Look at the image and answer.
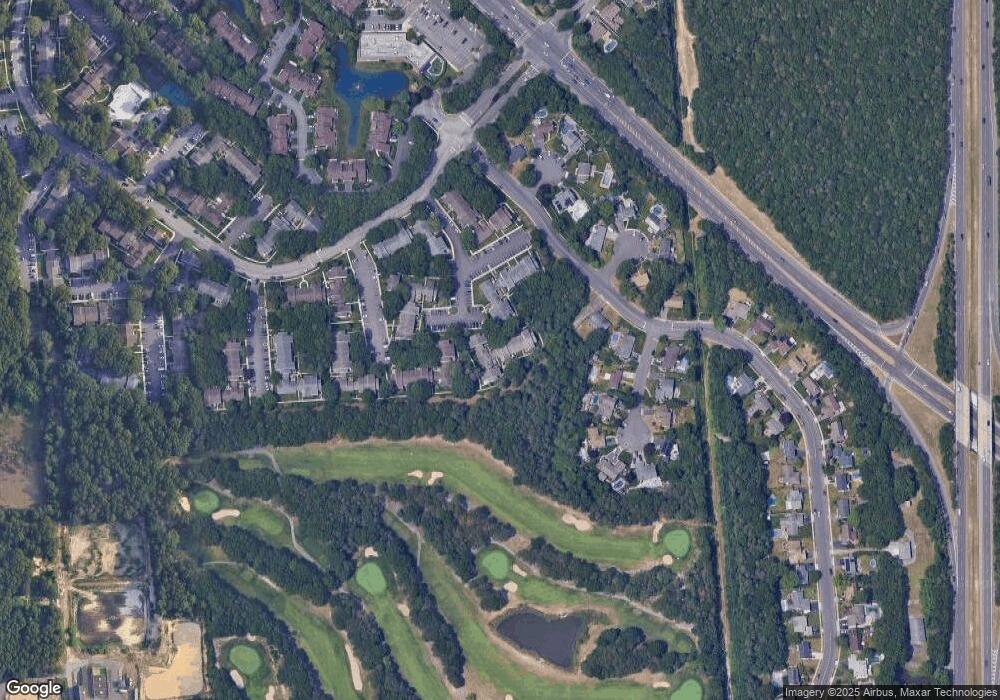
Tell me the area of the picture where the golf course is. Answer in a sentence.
The golf course sits in the bottom section of the image.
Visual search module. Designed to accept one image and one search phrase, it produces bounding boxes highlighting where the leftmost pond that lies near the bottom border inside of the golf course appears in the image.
[498,610,585,669]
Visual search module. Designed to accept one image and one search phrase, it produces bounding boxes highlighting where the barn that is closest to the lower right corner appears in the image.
[909,618,927,645]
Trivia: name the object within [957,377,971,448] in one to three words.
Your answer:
bridge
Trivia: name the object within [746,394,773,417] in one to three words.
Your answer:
house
